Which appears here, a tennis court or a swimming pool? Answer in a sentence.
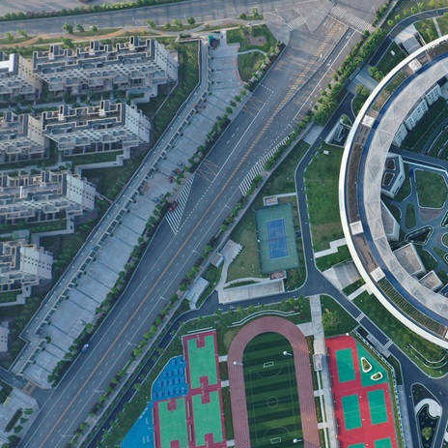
Visible in the photo is a tennis court.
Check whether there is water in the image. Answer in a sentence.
No, water can't be seen anywhere here.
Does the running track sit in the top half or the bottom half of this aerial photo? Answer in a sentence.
You can find the running track in the bottom half.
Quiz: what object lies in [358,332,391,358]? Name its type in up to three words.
building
